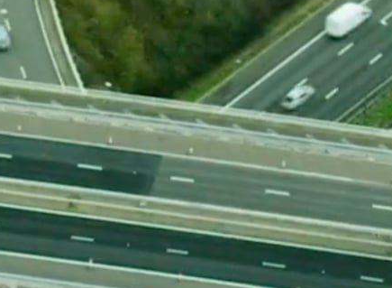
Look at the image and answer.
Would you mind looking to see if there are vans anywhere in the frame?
Yes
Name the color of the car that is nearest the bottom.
white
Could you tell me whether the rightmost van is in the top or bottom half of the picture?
top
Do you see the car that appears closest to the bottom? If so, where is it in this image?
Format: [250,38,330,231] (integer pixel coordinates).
[280,85,314,110]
